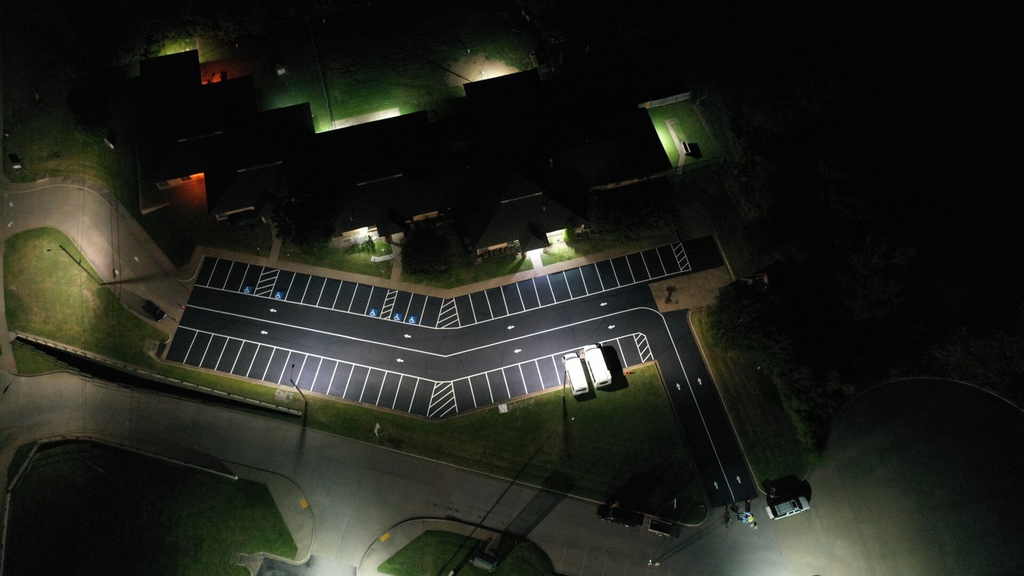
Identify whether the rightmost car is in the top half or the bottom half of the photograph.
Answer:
bottom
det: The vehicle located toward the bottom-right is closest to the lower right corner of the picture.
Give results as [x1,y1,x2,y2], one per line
[769,497,814,520]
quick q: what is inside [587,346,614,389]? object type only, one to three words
vehicle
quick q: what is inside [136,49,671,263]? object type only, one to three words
building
